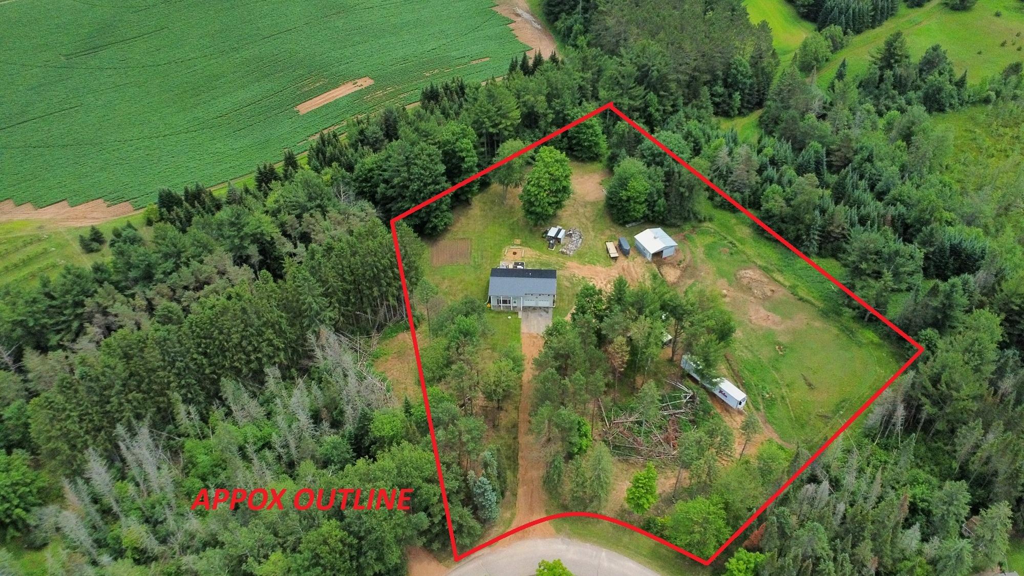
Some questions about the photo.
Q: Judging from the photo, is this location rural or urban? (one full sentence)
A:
The area is rural.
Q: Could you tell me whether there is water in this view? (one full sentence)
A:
No, the scene doesn't show any water.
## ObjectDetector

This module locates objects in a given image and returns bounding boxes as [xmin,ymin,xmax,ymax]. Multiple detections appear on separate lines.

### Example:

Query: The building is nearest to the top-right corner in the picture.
[632,228,679,262]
